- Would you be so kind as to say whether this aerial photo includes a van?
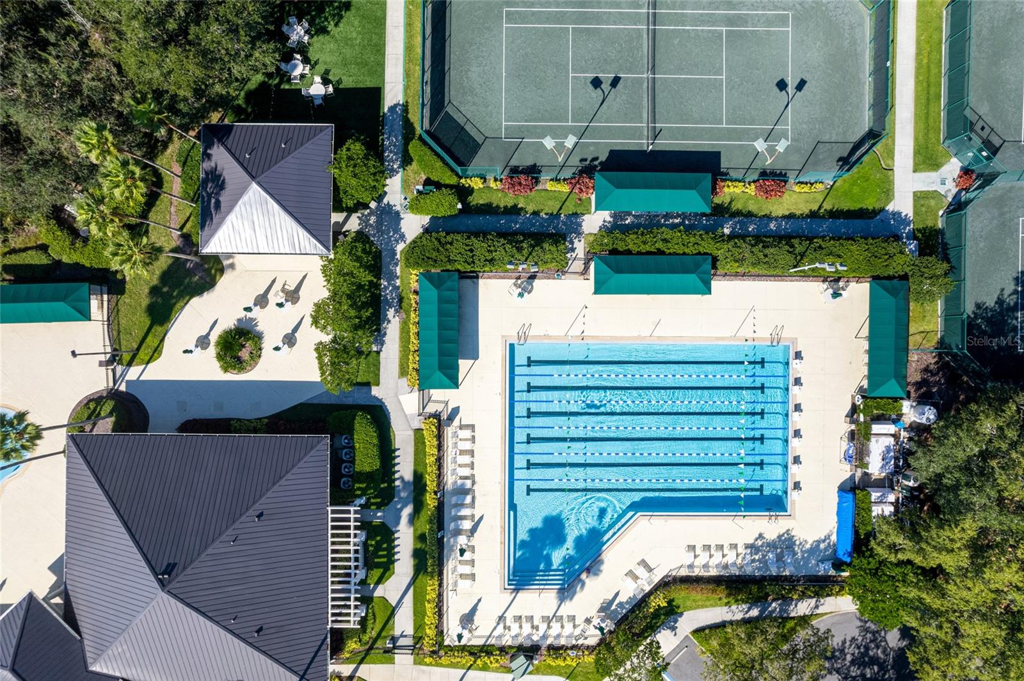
No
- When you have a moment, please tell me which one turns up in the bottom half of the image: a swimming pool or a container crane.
swimming pool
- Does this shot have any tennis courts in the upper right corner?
Yes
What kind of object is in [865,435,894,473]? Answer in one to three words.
shed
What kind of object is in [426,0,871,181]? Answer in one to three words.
tennis court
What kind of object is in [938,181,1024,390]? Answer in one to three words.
tennis court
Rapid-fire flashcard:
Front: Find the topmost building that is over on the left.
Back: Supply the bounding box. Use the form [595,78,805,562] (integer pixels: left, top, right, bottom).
[198,121,342,258]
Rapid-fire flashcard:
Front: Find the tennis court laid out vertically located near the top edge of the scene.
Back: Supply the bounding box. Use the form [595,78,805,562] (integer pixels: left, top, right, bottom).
[942,0,1024,179]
